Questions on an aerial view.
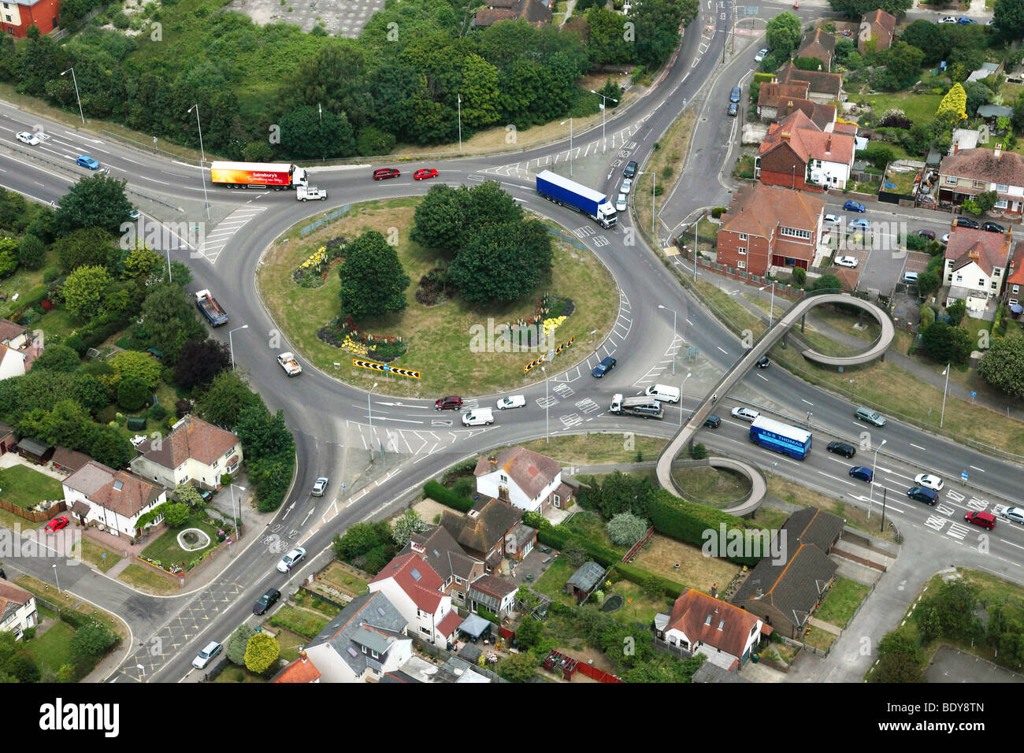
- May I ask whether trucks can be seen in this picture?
Yes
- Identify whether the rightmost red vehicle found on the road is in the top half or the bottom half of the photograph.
bottom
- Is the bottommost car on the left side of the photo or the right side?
left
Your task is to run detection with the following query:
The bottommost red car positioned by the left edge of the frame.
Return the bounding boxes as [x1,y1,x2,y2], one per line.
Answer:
[41,513,72,534]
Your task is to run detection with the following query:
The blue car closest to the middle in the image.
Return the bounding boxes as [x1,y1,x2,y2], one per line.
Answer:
[592,354,618,377]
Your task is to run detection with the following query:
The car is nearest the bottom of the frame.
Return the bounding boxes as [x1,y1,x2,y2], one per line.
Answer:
[192,638,223,668]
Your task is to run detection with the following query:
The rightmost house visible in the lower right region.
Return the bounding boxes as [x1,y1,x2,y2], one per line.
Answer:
[726,494,848,645]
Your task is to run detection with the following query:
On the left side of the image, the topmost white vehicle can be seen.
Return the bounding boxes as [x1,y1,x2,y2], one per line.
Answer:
[15,130,40,144]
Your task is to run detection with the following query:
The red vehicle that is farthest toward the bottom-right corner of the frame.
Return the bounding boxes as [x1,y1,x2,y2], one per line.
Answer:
[964,508,996,528]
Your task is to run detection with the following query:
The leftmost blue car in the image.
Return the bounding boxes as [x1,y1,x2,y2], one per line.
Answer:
[76,154,99,168]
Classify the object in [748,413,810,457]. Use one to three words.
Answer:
truck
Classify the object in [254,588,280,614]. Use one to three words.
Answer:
car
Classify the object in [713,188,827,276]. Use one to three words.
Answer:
building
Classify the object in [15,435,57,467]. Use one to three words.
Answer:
shed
